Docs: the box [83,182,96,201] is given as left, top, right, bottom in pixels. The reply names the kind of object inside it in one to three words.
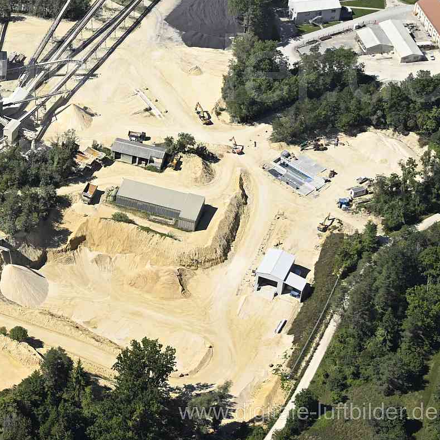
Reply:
vehicle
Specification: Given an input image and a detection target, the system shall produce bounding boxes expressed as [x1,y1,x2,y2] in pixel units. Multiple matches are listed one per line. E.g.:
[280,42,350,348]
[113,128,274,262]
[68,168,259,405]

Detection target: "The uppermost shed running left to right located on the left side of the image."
[110,137,173,175]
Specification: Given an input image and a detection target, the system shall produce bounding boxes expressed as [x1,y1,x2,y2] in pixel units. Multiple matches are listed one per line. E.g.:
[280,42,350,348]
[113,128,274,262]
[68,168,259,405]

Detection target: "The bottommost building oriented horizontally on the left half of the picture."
[114,175,207,229]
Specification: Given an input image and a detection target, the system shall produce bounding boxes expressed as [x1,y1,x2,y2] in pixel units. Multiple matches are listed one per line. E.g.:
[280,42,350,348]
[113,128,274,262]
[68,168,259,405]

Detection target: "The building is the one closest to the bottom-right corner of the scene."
[282,272,310,303]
